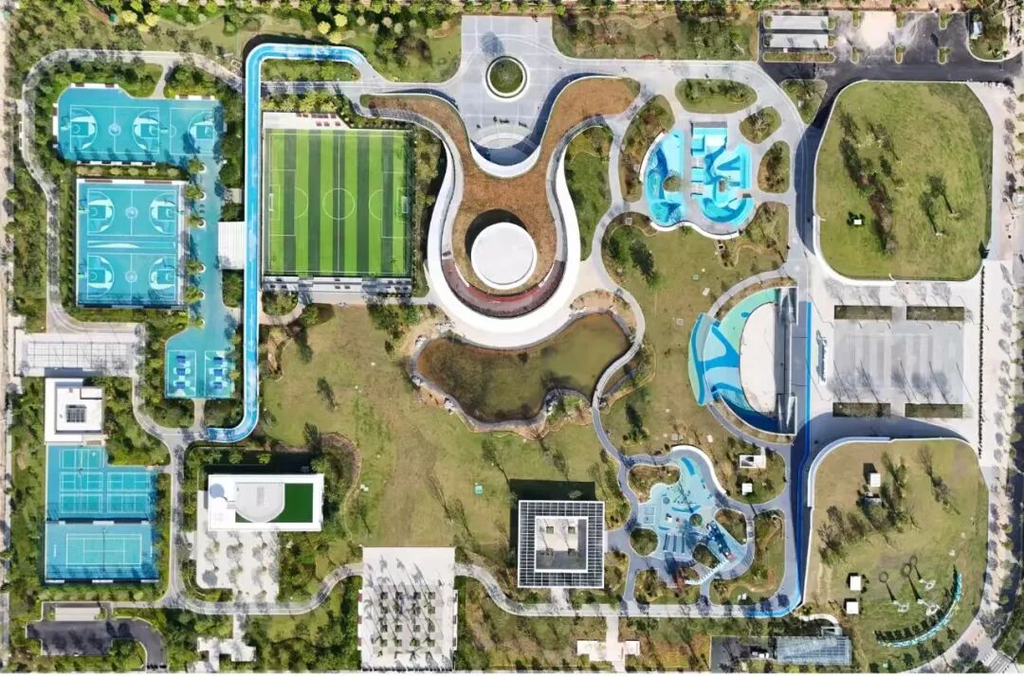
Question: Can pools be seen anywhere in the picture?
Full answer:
Yes, a pool appears in the view.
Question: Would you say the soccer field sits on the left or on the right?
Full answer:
It is on the left.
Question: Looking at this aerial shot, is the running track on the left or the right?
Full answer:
The running track sits on the left side.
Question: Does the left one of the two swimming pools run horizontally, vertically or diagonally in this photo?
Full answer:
I'd say the left one of the two swimming pools is aligned vertically in the picture.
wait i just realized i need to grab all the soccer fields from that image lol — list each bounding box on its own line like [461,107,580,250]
[264,129,409,275]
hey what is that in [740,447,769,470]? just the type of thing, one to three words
shed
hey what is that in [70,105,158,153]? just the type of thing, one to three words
basketball court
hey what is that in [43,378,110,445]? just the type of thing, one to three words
building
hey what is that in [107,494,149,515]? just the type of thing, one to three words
sports court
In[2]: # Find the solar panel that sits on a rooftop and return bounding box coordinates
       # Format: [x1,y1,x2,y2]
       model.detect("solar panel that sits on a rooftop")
[520,503,603,587]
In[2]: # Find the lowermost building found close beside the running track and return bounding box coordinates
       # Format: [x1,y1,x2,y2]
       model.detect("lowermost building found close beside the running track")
[208,472,328,531]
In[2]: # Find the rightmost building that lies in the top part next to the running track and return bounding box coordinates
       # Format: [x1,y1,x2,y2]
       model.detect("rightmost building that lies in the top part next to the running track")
[362,74,642,336]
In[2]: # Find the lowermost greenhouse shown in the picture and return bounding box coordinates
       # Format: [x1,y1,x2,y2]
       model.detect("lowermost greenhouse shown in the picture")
[771,622,852,666]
